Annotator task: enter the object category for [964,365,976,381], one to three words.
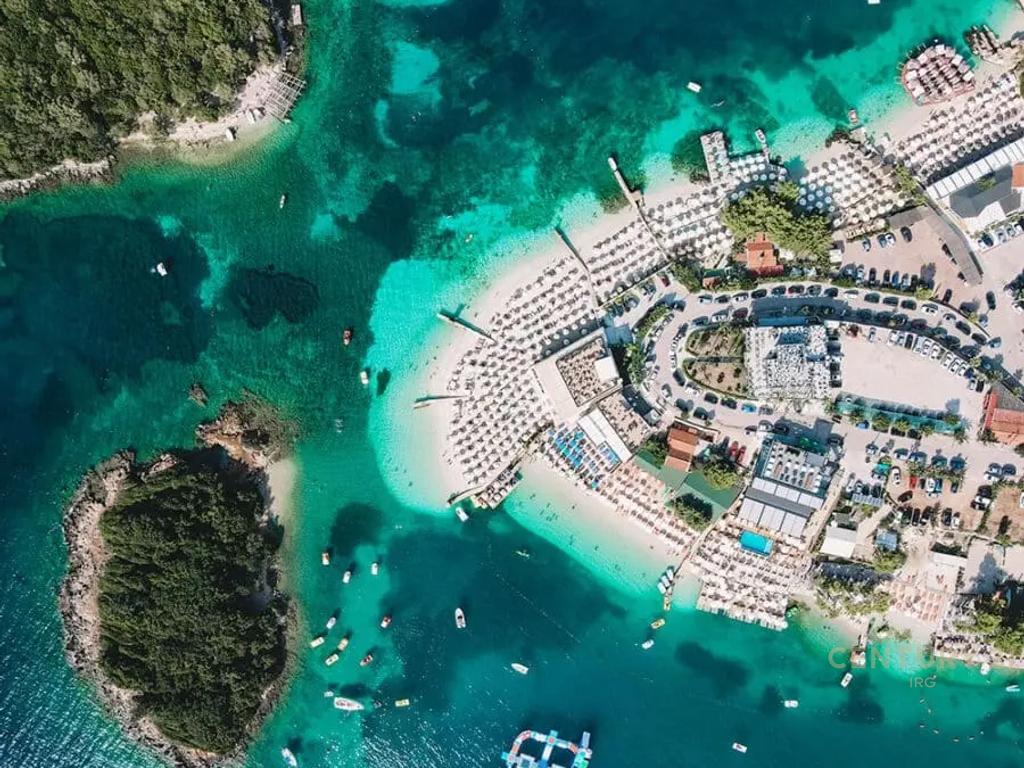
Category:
vehicle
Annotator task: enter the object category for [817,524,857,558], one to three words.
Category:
house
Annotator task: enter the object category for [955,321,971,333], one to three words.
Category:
vehicle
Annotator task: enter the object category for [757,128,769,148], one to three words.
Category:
boat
